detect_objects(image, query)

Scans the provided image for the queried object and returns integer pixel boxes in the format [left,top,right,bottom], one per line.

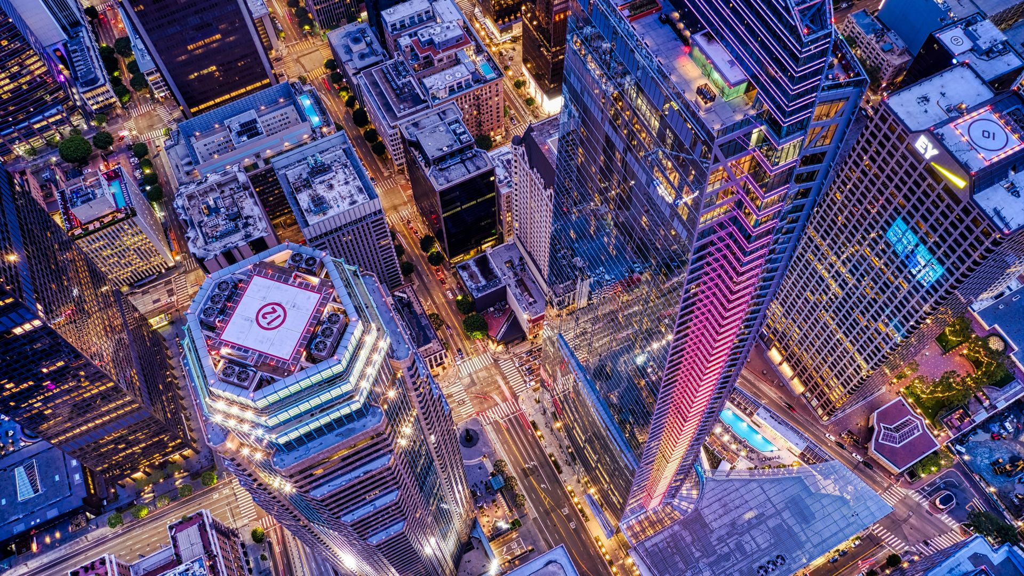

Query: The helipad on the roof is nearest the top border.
[933,27,970,64]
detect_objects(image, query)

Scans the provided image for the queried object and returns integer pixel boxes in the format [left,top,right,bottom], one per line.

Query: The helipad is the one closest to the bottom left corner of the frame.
[216,271,324,364]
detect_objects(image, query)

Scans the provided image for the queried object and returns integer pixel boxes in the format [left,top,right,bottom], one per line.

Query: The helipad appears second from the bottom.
[952,109,1022,164]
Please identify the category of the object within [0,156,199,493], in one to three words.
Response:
building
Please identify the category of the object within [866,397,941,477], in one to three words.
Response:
building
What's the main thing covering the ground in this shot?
buildings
